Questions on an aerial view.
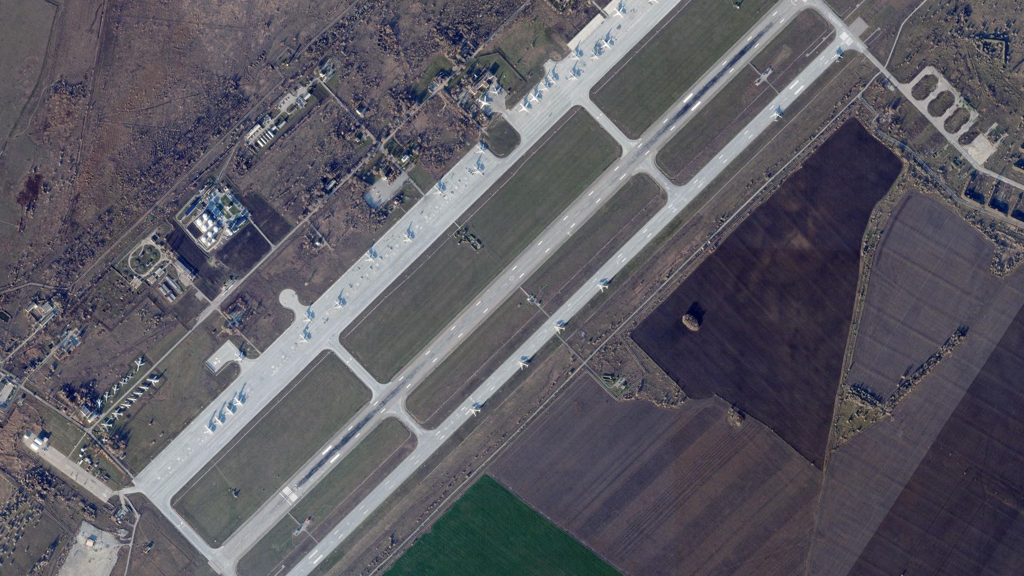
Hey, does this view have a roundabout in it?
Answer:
No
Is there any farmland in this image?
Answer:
Yes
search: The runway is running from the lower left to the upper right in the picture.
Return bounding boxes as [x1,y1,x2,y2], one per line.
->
[223,0,811,563]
